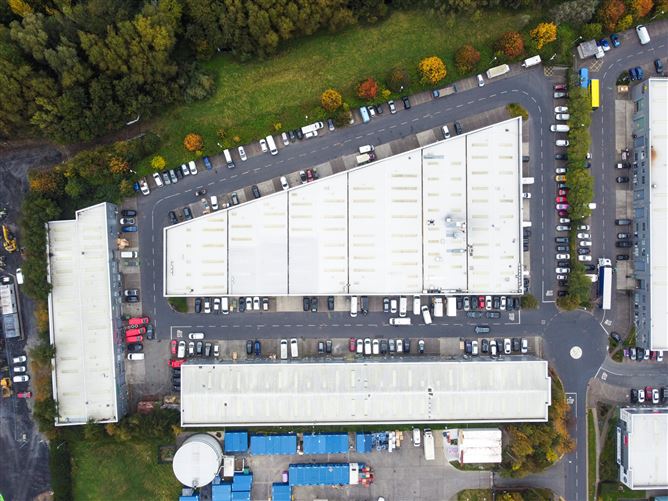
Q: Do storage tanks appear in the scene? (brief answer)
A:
Yes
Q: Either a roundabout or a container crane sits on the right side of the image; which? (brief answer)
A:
roundabout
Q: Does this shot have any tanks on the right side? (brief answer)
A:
No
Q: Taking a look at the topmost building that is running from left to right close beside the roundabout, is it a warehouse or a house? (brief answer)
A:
warehouse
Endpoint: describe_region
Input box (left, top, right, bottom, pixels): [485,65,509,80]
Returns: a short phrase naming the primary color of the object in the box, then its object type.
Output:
white camper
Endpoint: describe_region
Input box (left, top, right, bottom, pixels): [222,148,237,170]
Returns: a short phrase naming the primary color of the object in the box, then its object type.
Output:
white vehicle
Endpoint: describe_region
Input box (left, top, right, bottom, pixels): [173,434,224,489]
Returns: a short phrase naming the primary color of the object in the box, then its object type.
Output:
white storage tank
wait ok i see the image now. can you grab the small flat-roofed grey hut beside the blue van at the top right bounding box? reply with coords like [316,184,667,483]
[575,39,599,61]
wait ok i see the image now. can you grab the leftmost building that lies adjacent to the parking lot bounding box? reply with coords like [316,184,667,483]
[48,202,129,424]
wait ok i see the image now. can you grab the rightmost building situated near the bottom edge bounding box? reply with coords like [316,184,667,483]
[611,408,668,489]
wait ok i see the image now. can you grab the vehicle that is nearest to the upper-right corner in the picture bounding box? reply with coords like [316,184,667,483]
[635,26,652,46]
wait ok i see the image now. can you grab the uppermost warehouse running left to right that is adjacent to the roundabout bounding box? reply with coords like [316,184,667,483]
[164,116,524,297]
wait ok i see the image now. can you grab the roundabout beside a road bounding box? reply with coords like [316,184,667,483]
[530,304,608,398]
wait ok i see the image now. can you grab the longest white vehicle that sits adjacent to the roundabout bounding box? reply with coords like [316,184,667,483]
[596,260,611,312]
